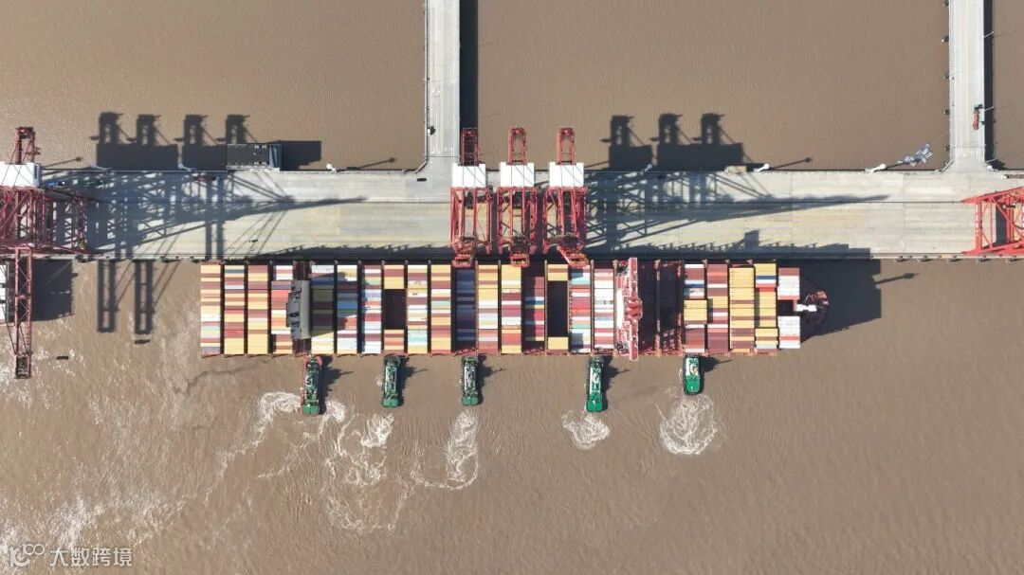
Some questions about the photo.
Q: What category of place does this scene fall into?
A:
port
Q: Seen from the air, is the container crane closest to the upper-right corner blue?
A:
No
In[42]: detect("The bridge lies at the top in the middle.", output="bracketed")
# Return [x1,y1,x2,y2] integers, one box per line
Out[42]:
[417,0,461,171]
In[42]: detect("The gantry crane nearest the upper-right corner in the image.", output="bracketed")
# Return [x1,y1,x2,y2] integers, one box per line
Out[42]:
[958,189,1024,254]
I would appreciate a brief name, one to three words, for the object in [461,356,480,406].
boat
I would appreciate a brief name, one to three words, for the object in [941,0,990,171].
bridge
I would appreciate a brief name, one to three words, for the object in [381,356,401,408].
boat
